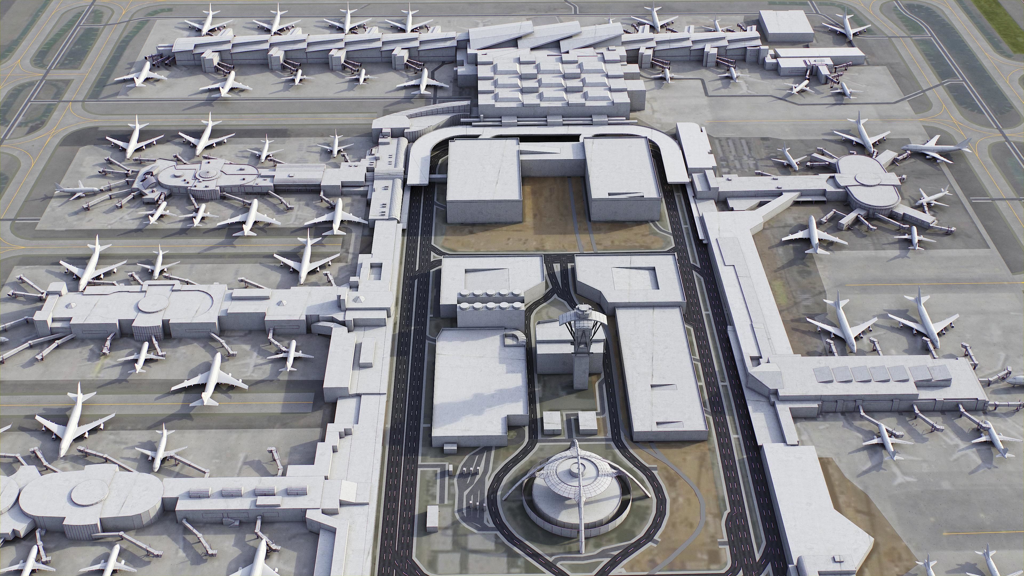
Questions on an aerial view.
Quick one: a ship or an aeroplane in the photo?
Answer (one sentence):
Looking from above, you can make out an aeroplane.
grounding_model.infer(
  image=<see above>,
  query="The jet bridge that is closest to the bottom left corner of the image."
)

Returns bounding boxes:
[37,529,54,566]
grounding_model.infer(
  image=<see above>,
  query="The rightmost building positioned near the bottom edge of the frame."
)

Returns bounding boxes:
[761,443,875,576]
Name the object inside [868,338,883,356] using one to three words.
jet bridge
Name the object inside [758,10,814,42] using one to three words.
hangar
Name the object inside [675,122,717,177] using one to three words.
building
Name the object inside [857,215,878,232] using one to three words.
jet bridge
